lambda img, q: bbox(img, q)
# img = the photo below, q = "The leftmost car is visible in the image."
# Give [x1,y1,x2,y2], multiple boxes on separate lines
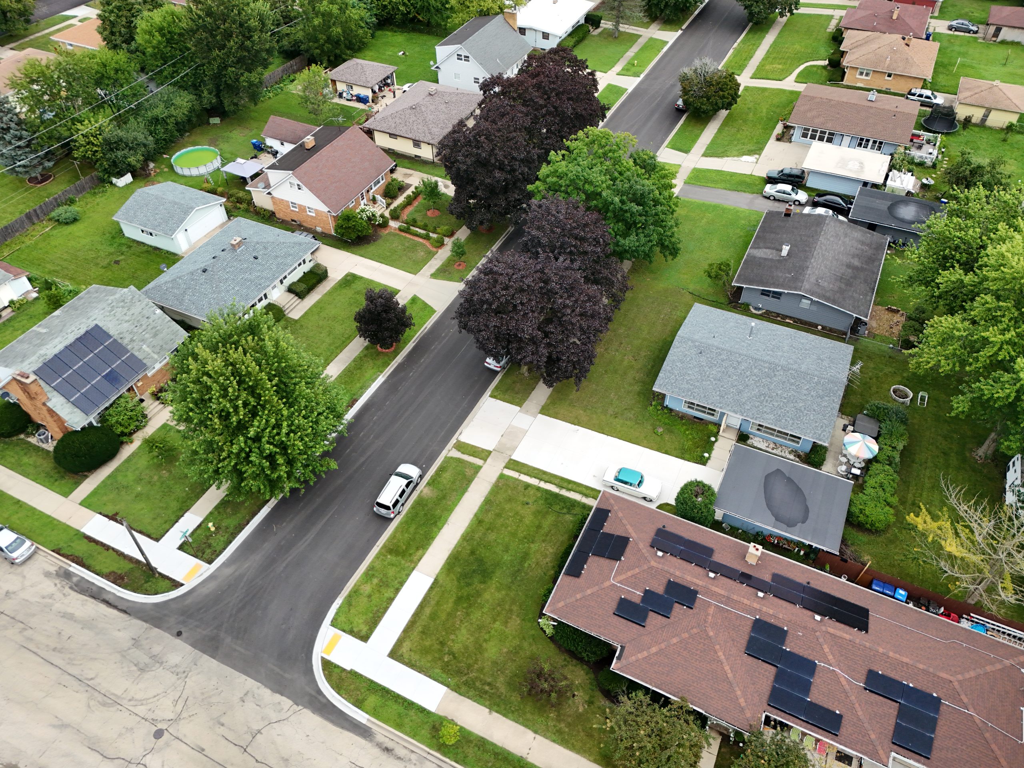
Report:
[0,530,31,567]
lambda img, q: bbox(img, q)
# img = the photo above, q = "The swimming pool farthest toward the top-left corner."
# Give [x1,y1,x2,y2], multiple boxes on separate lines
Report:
[177,149,224,178]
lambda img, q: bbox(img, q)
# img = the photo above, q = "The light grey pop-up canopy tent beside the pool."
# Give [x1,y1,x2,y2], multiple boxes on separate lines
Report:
[222,157,268,191]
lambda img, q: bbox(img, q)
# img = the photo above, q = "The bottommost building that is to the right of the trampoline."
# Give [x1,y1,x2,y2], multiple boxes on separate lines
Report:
[955,77,1024,132]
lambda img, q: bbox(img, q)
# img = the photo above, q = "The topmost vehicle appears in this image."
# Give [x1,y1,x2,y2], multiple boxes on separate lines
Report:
[947,19,982,33]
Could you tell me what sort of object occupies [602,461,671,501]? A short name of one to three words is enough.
car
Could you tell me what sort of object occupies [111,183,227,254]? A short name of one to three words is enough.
building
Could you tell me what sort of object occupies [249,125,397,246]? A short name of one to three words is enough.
house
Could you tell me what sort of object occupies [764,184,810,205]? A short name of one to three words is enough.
car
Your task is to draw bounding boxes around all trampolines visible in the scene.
[920,105,960,138]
